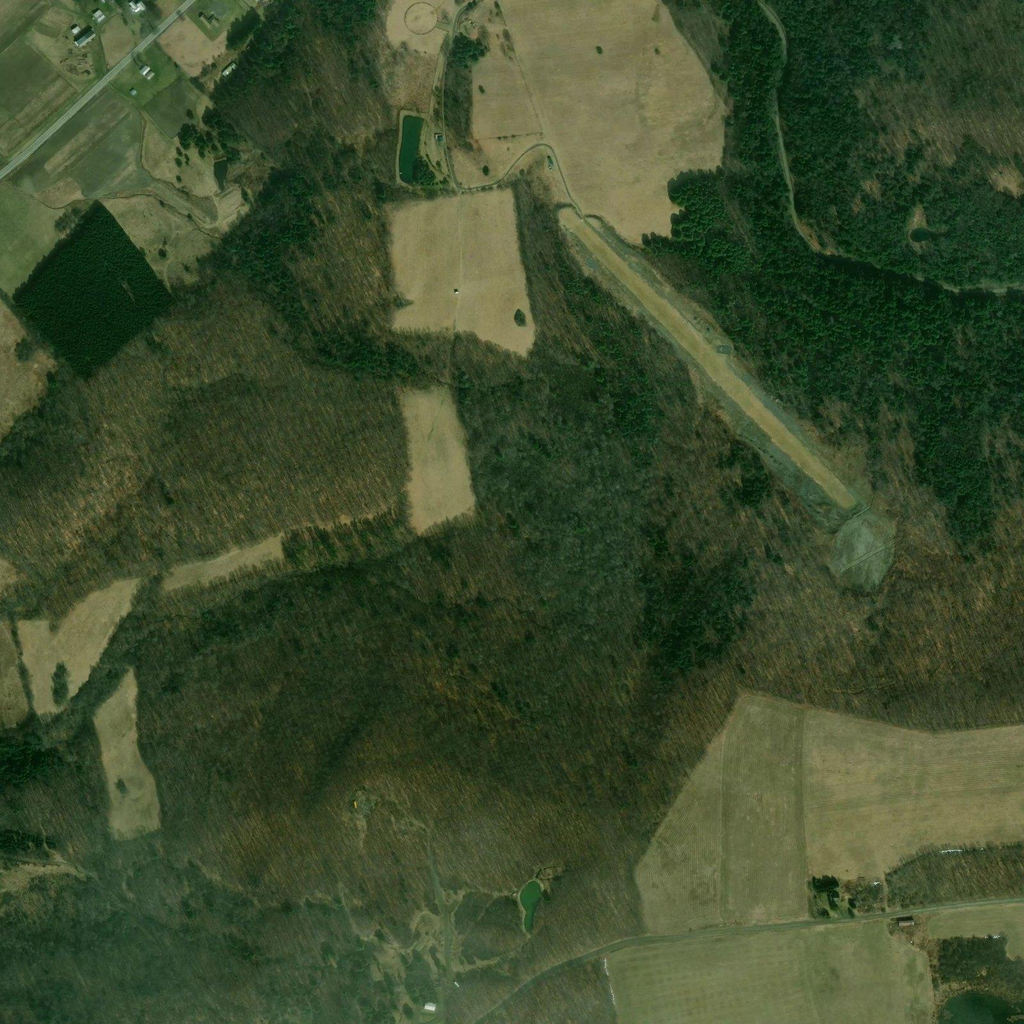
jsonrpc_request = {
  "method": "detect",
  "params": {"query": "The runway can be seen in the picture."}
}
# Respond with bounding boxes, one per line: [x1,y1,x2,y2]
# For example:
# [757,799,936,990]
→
[559,207,854,508]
